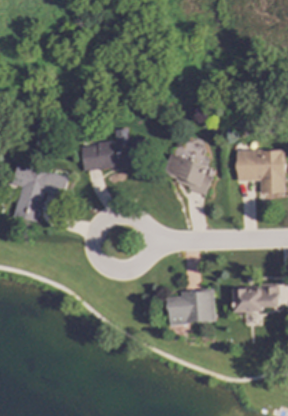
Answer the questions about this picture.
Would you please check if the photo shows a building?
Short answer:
Yes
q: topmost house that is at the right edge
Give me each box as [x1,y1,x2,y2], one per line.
[238,149,288,196]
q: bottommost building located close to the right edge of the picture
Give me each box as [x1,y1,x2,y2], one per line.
[237,286,280,316]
